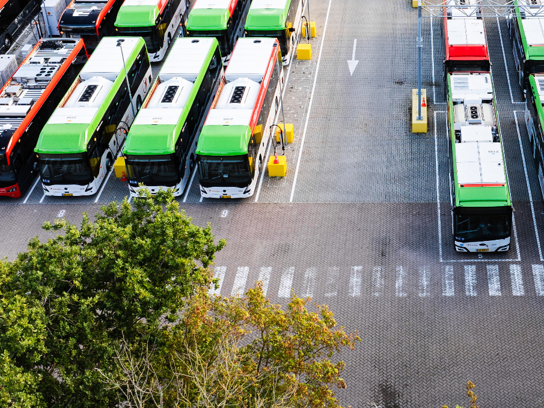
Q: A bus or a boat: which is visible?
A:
bus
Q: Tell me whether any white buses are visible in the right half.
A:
Yes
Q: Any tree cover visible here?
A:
Yes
